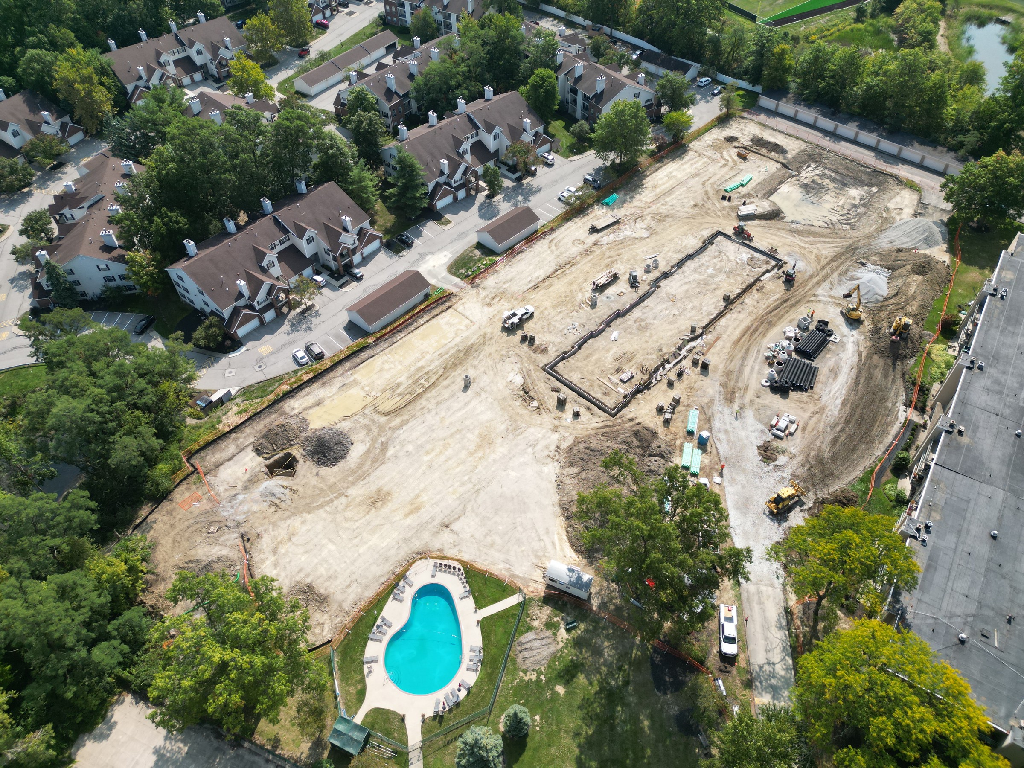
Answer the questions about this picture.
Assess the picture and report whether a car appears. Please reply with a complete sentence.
Yes, the image includes a car.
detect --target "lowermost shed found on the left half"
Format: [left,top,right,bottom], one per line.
[328,716,370,757]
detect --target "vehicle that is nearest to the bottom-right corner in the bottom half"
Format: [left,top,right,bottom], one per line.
[719,603,738,655]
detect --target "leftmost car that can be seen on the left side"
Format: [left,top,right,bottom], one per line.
[132,314,158,334]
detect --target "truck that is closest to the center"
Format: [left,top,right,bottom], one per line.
[502,306,534,328]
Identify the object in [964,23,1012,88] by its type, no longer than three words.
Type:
pond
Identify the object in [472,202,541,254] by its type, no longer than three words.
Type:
building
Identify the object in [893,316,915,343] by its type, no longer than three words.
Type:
work vehicle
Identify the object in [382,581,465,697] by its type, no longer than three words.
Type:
swimming pool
